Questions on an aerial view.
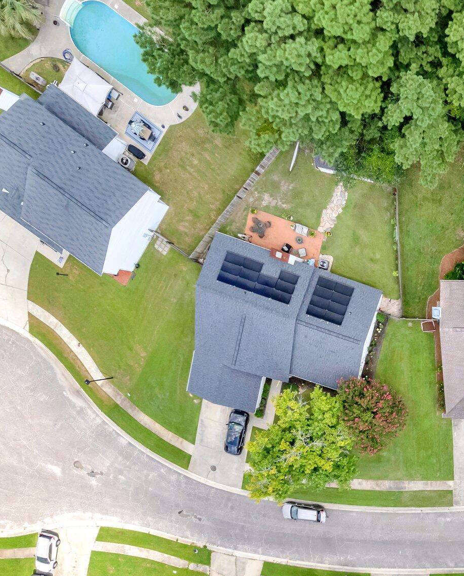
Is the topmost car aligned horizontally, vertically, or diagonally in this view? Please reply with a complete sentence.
The topmost car runs vertically in the image.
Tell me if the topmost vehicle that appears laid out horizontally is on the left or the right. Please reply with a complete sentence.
You can find the topmost vehicle that appears laid out horizontally on the right side of the picture.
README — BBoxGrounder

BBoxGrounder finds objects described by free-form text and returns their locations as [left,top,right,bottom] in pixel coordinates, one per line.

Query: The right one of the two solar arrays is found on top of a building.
[306,277,354,325]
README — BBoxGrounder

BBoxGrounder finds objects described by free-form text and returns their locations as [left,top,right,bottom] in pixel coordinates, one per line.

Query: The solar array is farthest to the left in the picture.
[213,251,300,303]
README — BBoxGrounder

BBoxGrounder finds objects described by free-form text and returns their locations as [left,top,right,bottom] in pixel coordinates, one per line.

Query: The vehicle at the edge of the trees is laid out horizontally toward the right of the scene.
[281,501,328,523]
